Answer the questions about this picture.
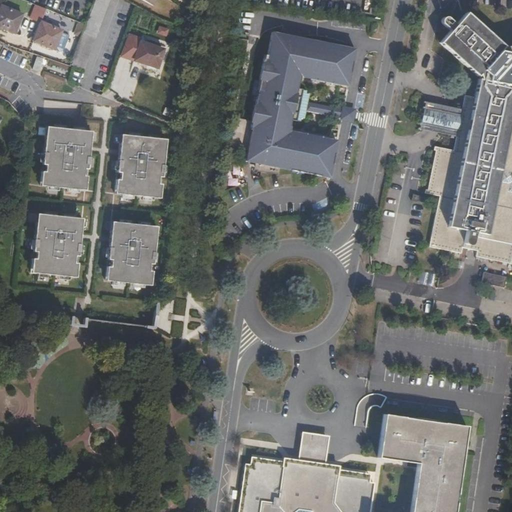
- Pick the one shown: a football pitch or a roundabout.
roundabout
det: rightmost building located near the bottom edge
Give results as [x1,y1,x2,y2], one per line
[380,414,472,512]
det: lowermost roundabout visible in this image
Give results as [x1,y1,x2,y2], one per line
[299,378,339,418]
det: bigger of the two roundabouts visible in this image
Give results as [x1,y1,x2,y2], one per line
[234,224,358,386]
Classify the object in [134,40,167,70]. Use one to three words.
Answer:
house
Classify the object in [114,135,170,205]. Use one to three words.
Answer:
building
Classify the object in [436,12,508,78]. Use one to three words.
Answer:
building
